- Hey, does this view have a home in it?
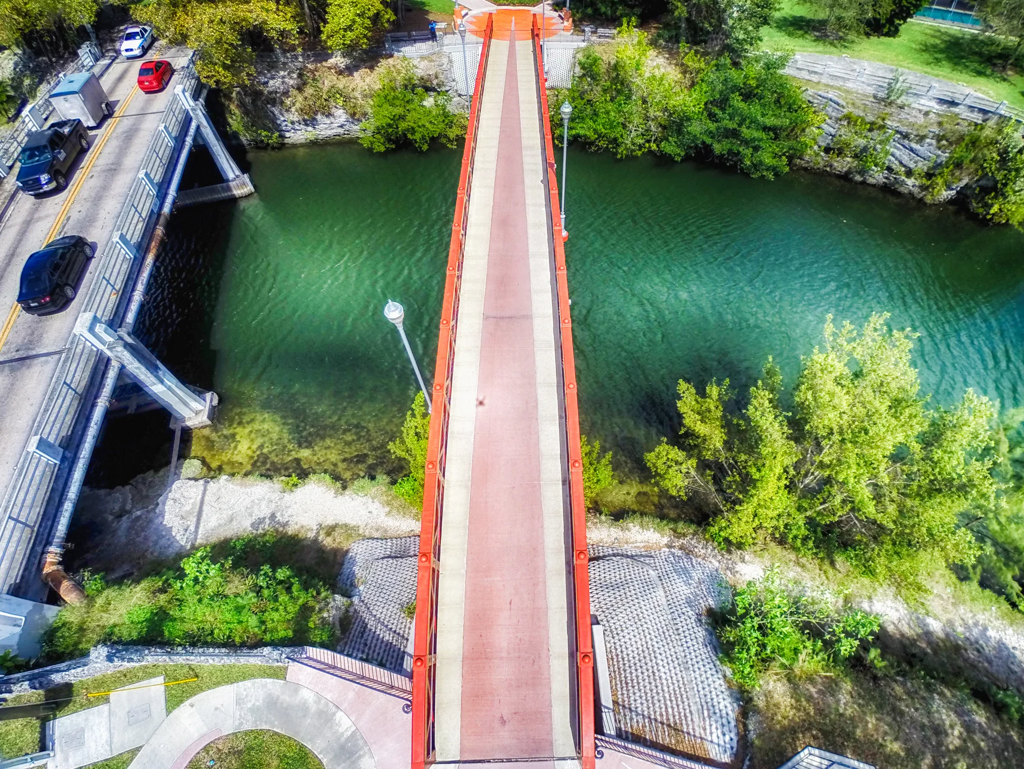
No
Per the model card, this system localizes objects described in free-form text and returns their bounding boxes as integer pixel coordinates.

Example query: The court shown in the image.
[906,0,998,51]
